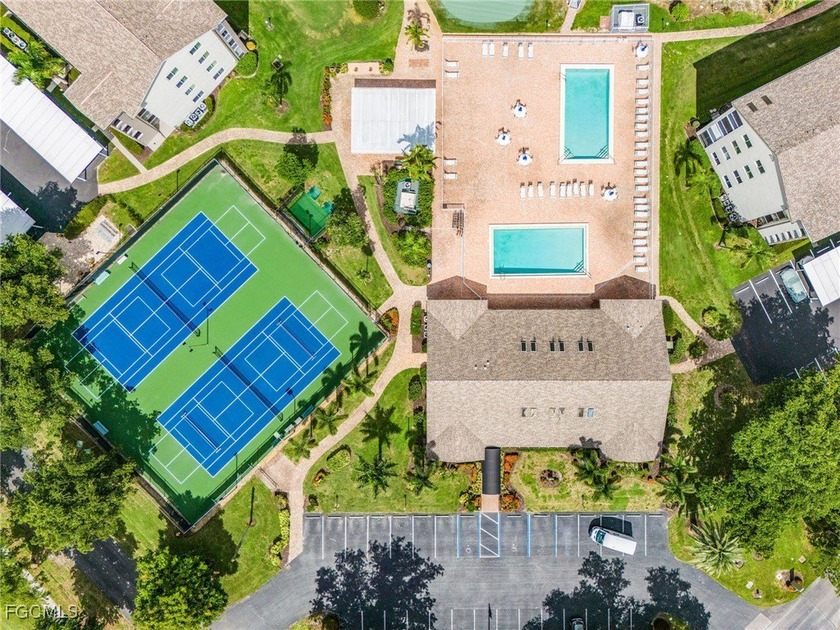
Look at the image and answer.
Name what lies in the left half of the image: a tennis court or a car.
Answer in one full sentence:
Looking in the left half of the image, you will find a tennis court.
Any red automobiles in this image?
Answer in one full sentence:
No, there's no red automobile here.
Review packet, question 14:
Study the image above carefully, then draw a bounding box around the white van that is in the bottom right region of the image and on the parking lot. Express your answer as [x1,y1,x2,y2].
[589,527,641,559]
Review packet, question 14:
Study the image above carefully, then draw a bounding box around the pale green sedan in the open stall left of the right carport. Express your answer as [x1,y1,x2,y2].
[778,267,808,303]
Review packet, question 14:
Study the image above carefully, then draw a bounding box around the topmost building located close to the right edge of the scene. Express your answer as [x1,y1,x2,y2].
[696,47,840,246]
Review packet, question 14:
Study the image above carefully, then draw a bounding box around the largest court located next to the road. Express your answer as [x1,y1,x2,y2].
[25,158,387,532]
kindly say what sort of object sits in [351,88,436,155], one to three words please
building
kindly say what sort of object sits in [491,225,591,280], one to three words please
swimming pool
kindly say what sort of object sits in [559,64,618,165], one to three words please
swimming pool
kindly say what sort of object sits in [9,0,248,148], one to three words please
building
